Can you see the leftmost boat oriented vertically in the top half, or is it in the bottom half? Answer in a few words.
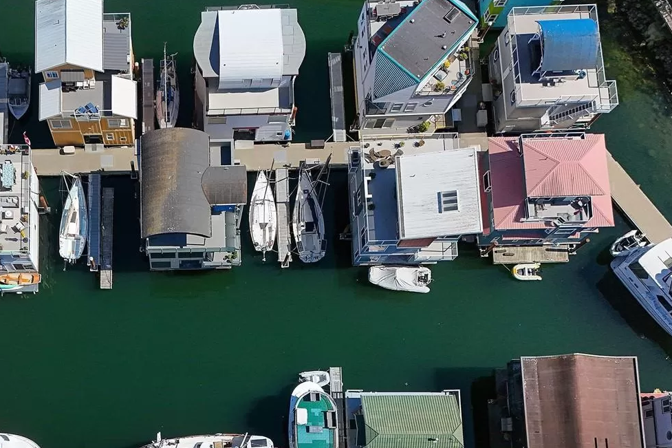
top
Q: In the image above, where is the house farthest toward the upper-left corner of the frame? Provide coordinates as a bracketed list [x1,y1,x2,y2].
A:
[34,0,138,150]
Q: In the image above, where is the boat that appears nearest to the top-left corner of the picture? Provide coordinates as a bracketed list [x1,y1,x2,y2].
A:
[6,61,30,119]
